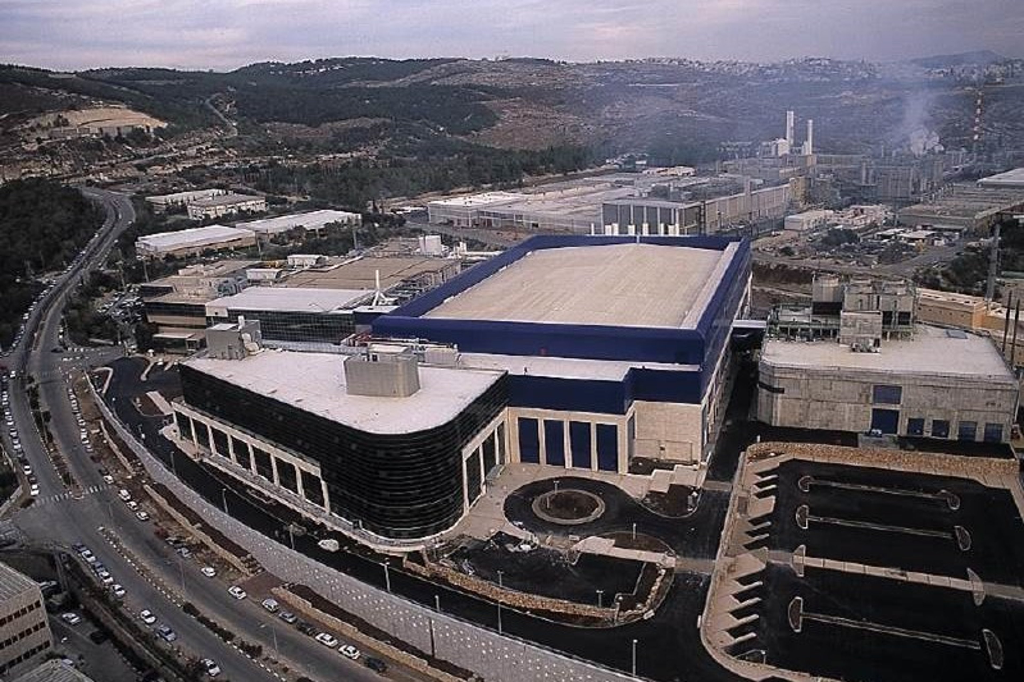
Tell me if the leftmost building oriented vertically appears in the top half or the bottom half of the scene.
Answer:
bottom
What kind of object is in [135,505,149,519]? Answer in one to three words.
car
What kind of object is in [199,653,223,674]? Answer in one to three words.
car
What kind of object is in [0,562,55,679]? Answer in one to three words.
building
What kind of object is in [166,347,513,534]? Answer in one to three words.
building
